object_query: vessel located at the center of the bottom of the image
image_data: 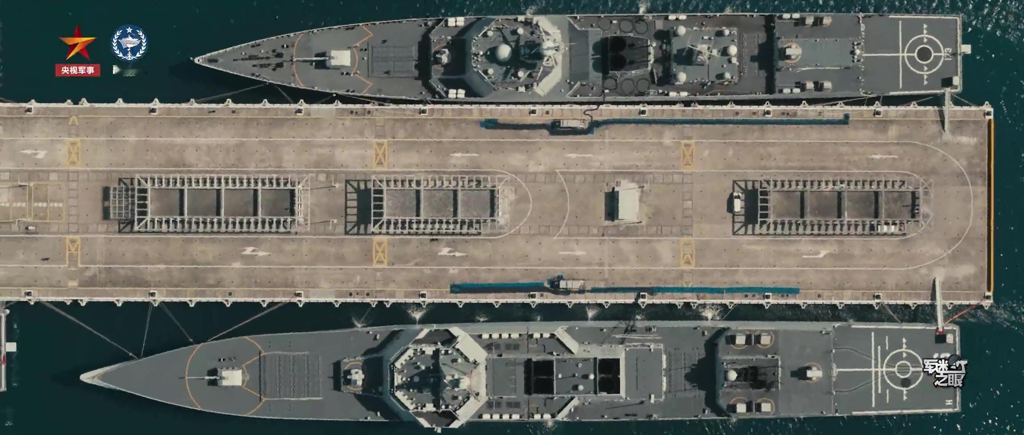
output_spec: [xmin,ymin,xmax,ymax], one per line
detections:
[80,320,959,433]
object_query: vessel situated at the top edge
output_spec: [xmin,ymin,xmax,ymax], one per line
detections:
[190,13,972,103]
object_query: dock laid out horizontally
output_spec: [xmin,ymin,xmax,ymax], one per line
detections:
[0,99,993,310]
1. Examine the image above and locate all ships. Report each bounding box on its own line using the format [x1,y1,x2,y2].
[190,13,972,103]
[80,320,959,433]
[0,309,17,390]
